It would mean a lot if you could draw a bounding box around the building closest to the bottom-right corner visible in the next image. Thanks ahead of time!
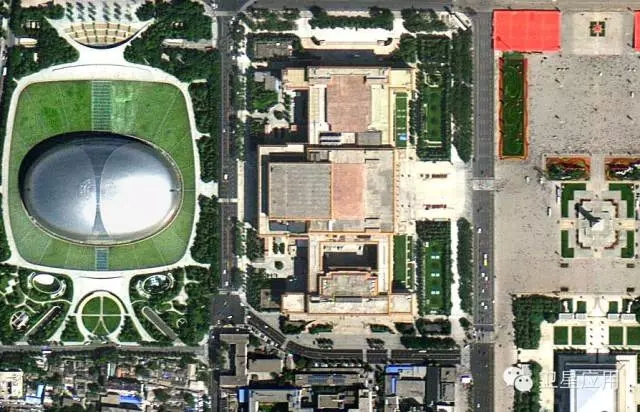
[555,349,640,412]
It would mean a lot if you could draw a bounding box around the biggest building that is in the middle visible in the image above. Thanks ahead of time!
[258,66,414,319]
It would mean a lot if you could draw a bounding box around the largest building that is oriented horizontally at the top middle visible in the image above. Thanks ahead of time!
[253,41,293,58]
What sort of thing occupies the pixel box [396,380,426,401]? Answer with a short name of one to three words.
building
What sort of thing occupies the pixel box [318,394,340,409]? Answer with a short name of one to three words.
building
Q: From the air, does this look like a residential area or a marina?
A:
residential area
